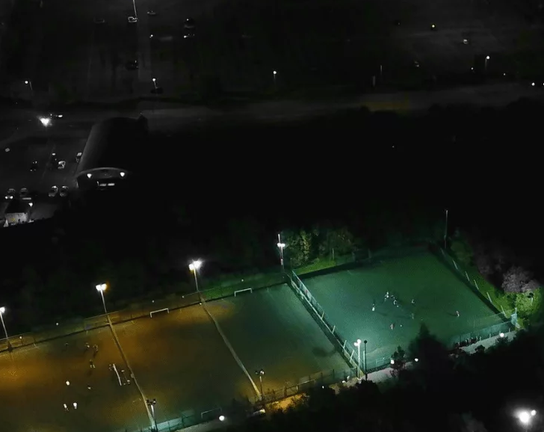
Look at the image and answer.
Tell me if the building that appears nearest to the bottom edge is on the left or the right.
left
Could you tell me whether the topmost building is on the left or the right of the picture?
left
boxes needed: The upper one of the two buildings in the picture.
[75,100,156,188]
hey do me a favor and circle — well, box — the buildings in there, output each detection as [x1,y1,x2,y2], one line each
[75,100,156,188]
[1,198,33,224]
